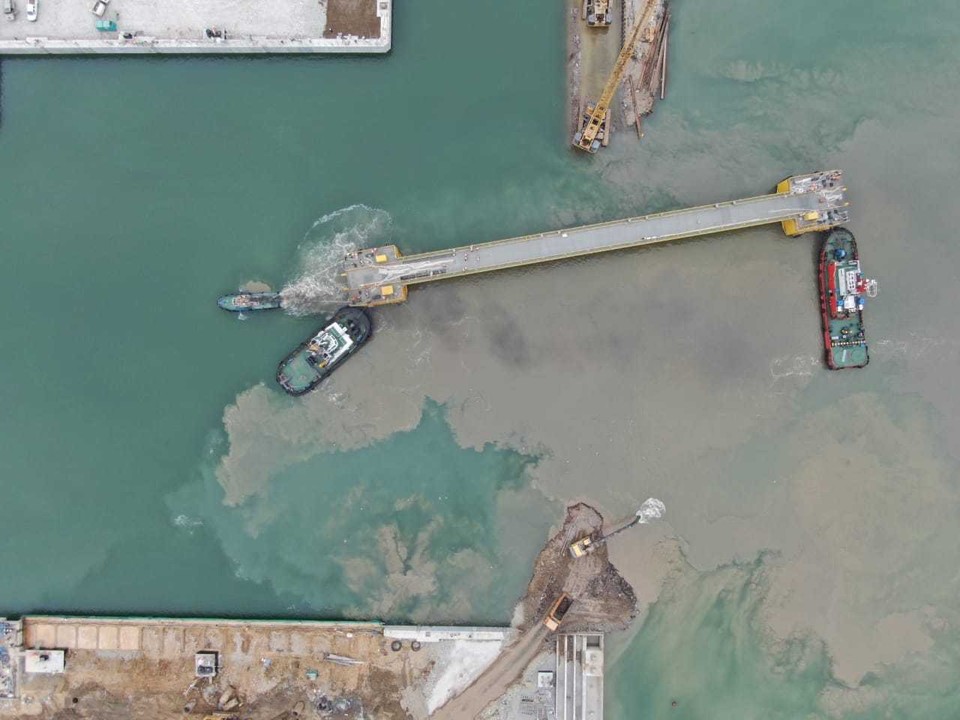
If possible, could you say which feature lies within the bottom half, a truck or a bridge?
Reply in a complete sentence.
The one visible within the bottom half is a truck.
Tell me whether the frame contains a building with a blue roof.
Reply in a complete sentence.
No, no building with a blue roof is visible in the scene.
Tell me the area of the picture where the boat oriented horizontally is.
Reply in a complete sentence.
The boat oriented horizontally appears toward the left of the photo.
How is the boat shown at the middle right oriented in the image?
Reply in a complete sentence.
The boat shown at the middle right runs up and down in the image.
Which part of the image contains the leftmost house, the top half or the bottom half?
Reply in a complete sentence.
You can find the leftmost house in the bottom half.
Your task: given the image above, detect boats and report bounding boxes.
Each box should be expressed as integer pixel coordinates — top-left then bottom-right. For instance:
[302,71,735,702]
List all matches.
[276,304,377,398]
[817,226,877,370]
[217,291,283,311]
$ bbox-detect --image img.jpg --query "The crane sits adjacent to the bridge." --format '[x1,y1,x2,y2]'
[575,0,661,150]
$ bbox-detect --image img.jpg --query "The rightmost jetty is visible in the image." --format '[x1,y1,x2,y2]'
[773,170,851,236]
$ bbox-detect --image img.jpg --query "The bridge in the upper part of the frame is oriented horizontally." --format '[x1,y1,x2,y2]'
[340,170,851,308]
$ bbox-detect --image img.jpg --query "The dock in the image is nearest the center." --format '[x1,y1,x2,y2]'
[340,247,409,308]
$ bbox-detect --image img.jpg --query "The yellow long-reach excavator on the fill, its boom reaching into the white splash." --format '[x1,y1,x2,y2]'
[566,511,647,562]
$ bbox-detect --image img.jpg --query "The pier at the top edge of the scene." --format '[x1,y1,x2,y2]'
[0,0,391,54]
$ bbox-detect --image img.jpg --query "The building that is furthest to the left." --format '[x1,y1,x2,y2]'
[22,644,68,672]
